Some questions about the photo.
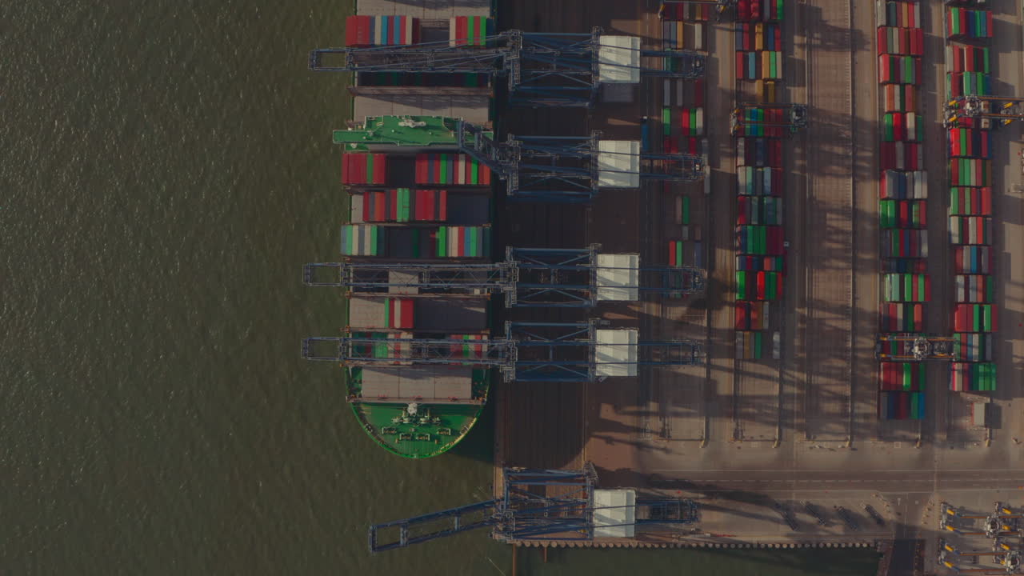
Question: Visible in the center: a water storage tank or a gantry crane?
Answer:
gantry crane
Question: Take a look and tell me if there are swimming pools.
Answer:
No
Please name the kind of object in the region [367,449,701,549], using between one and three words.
container crane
